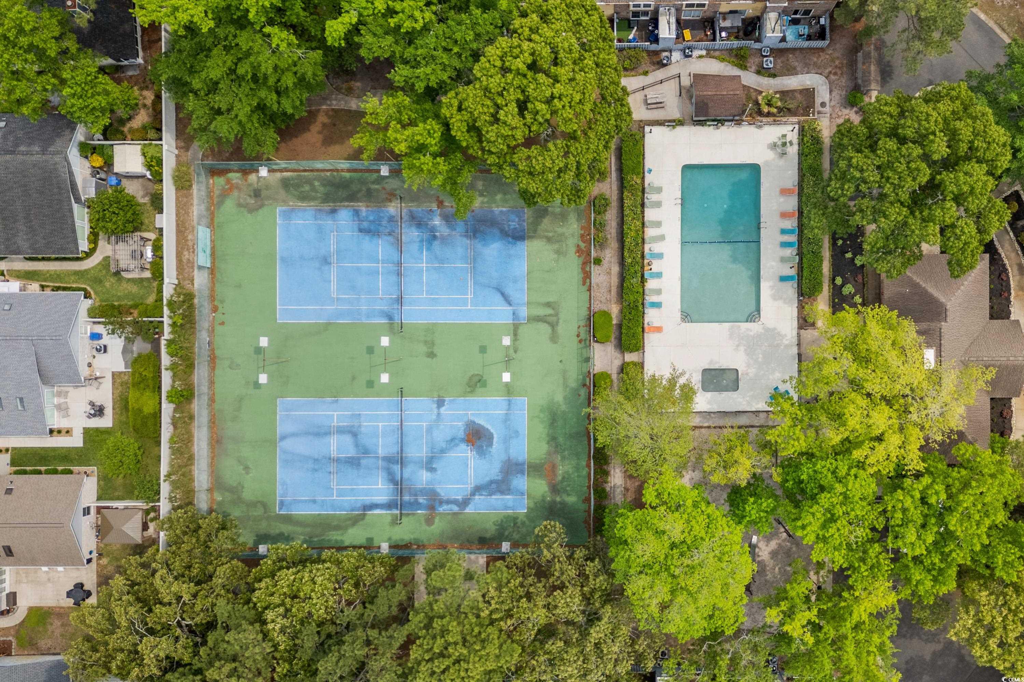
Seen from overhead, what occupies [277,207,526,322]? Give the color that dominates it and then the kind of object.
blue tennis court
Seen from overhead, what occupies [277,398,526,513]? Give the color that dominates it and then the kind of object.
blue tennis court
